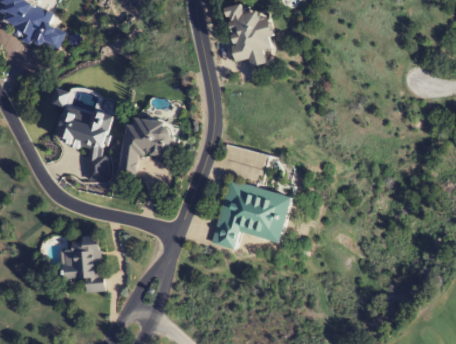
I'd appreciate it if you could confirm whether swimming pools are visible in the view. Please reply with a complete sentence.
Yes, a swimming pool appears in the view.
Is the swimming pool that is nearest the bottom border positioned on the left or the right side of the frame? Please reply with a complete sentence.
You can find the swimming pool that is nearest the bottom border on the left side of the picture.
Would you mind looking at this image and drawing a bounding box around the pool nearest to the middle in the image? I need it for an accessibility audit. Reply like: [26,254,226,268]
[142,96,184,124]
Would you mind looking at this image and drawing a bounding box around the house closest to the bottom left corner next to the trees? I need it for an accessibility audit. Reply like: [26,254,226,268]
[62,238,108,292]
